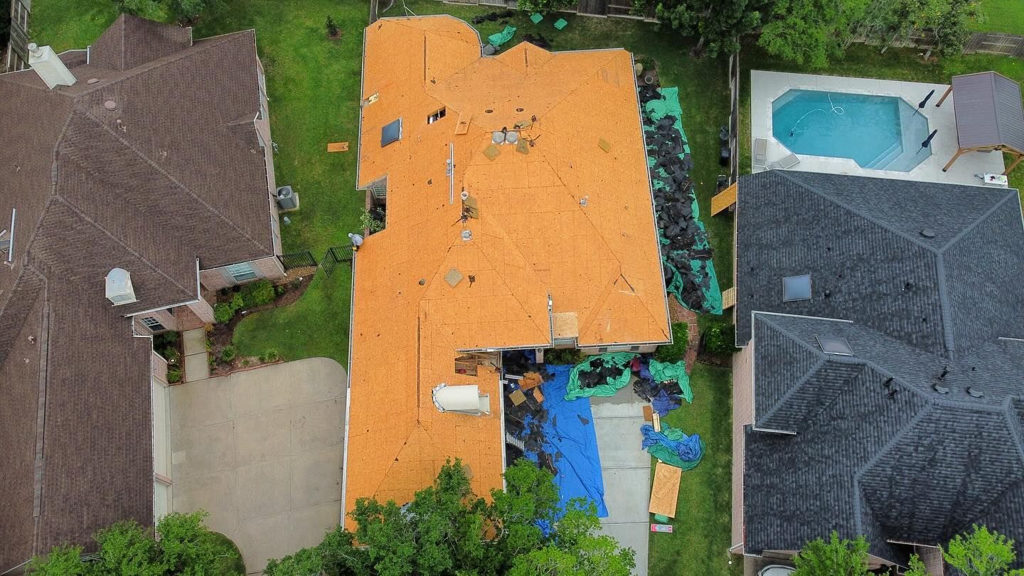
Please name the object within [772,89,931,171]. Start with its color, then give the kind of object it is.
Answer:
blue swimming pool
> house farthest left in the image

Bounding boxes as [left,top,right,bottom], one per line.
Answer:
[0,12,293,576]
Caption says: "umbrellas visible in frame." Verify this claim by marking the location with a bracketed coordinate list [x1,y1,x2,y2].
[917,124,942,154]
[913,85,938,116]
